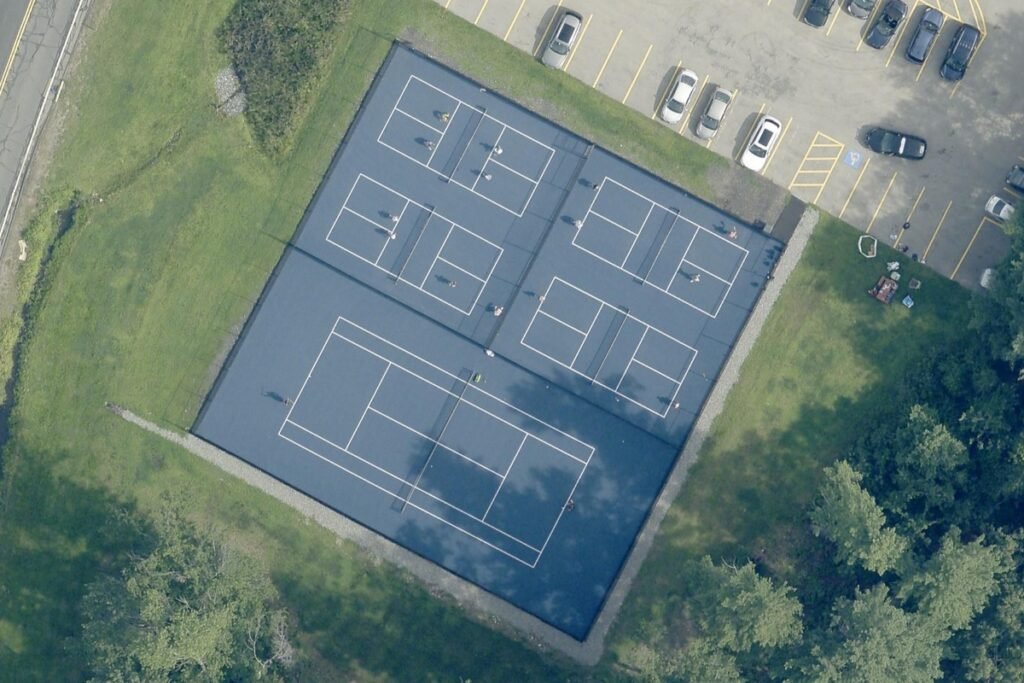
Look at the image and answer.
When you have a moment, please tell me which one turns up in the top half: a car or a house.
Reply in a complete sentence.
The one visible in the top half is a car.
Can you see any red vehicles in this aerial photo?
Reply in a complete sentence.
No, there isn't any red vehicle down there.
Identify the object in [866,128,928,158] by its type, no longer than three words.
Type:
truck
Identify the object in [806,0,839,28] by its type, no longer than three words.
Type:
car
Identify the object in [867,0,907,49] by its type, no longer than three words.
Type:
car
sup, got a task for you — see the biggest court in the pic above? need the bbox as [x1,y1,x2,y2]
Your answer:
[192,246,680,641]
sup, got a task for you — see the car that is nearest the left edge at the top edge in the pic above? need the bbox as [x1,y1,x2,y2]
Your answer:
[542,12,584,68]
